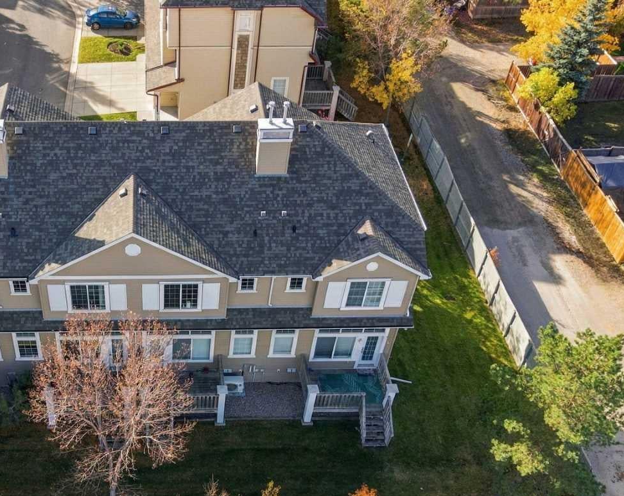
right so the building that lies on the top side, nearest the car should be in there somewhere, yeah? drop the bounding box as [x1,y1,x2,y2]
[141,0,324,120]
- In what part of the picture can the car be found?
top left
